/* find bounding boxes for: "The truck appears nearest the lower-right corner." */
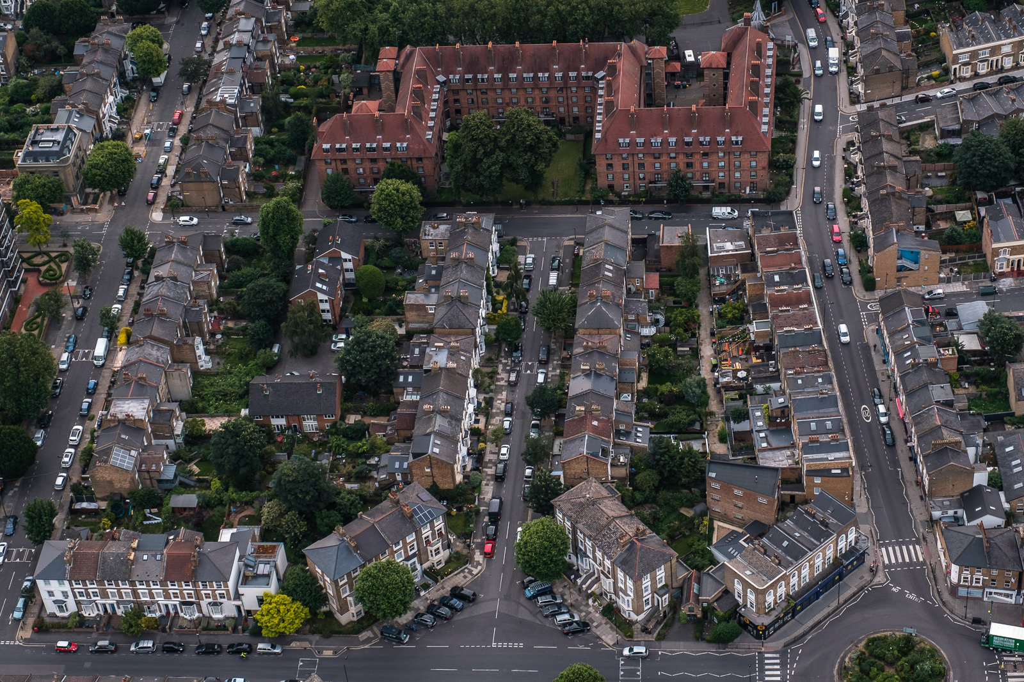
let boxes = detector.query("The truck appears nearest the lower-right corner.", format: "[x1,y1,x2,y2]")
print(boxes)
[981,628,1024,660]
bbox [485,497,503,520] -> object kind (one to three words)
vehicle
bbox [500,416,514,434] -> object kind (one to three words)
car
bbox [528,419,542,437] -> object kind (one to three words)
car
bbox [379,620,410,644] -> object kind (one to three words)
vehicle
